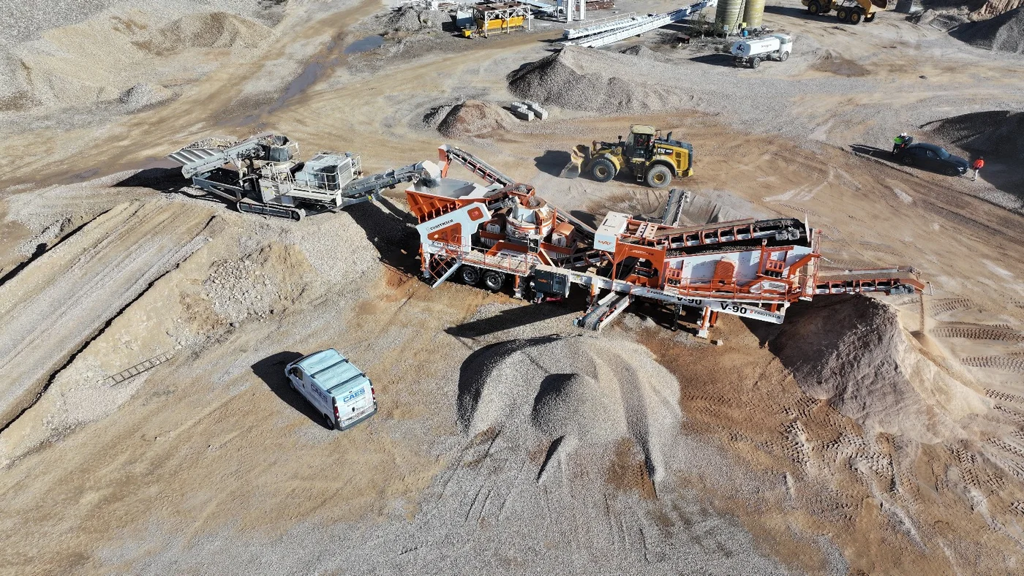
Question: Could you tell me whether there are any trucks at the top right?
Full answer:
Yes, a truck is visible at the top right.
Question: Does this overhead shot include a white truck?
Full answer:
Yes, the photo shows a white truck.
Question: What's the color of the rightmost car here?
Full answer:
From above, the rightmost car appears black.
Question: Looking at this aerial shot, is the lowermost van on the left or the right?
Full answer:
The lowermost van is on the left side of the image.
